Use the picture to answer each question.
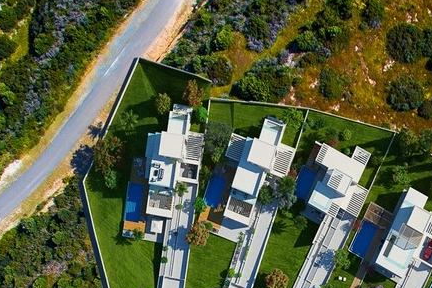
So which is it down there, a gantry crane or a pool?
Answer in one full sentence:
The one in the frame is a pool.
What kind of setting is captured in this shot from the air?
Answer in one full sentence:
The picture captures a residential area.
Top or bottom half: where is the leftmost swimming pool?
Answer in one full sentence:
The leftmost swimming pool is in the bottom half of the image.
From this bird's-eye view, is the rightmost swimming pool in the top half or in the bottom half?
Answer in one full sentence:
Seen from above, the rightmost swimming pool lies in the bottom half of the view.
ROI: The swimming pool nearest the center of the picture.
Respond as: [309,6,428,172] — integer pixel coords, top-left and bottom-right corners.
[203,175,226,209]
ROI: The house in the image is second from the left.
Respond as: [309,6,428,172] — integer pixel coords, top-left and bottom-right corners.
[223,119,296,230]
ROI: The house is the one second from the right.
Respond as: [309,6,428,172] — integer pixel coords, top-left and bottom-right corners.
[308,141,371,218]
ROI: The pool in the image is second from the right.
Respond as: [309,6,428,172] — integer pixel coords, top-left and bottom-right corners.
[293,165,318,201]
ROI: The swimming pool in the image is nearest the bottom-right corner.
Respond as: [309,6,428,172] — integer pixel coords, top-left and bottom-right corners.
[349,218,379,259]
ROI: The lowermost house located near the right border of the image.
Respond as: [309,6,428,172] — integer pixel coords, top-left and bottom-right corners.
[373,187,432,280]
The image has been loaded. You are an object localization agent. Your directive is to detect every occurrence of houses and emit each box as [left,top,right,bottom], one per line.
[308,141,371,218]
[373,187,432,280]
[145,104,206,234]
[223,119,296,230]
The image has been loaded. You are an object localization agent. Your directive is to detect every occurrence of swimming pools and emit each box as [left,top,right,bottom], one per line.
[349,218,379,259]
[123,181,144,223]
[203,175,226,209]
[293,165,318,201]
